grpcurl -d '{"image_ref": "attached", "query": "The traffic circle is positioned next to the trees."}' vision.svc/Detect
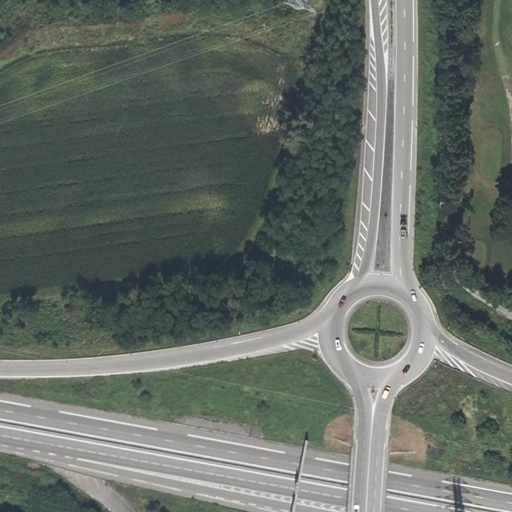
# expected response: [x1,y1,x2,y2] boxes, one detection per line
[317,271,438,392]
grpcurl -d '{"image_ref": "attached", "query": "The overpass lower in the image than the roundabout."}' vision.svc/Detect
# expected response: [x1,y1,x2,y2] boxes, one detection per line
[348,444,390,512]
